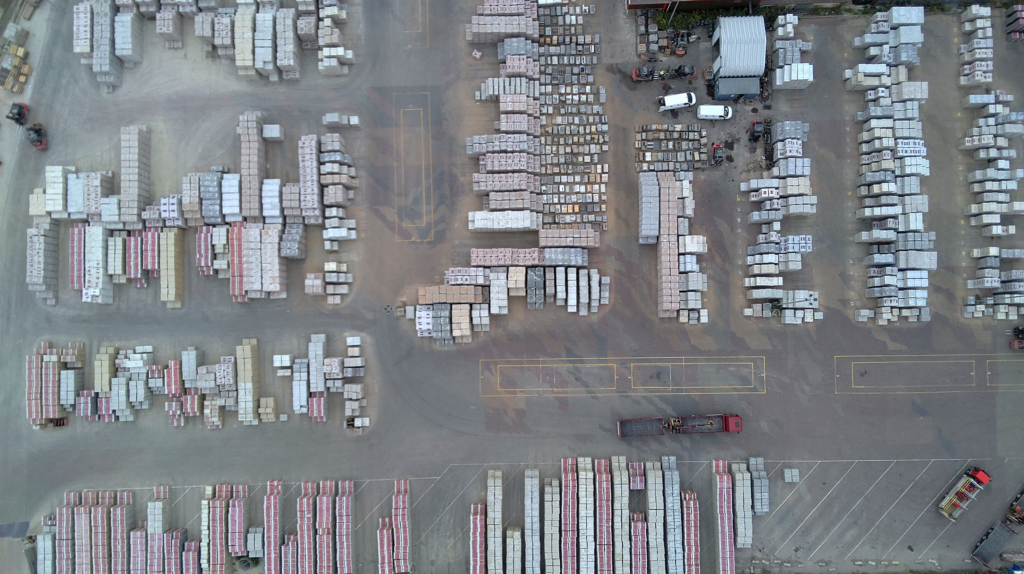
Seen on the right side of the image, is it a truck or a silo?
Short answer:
truck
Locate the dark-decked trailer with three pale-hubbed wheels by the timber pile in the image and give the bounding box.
[972,521,1021,568]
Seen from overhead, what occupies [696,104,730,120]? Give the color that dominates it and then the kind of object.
white vehicle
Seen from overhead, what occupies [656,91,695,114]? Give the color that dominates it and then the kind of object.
white vehicle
